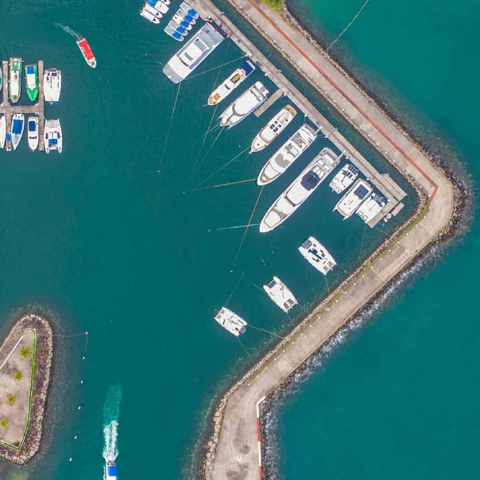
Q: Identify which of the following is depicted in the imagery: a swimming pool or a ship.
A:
ship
